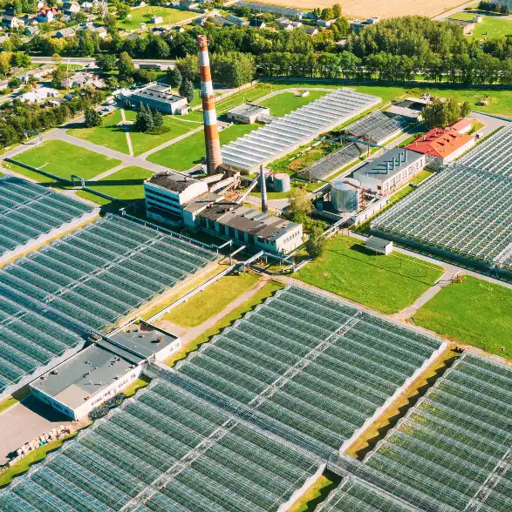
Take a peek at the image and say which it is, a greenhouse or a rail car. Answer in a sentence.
Looking from above, you can make out a greenhouse.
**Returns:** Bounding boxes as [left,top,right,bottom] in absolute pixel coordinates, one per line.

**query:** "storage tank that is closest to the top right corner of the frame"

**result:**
[329,177,364,214]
